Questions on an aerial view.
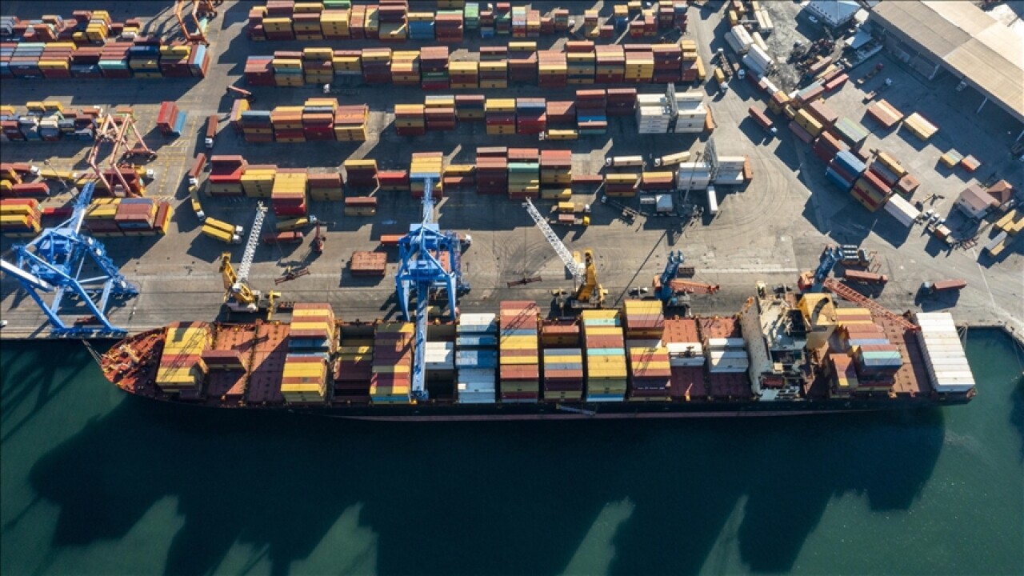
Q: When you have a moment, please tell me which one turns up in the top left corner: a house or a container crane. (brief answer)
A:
container crane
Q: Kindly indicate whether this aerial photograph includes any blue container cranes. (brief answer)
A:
Yes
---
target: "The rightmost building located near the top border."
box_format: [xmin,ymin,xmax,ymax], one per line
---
[865,0,1024,127]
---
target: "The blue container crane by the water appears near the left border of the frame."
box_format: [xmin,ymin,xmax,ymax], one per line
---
[0,177,134,330]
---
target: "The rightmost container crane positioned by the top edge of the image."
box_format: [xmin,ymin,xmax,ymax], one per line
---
[173,0,224,44]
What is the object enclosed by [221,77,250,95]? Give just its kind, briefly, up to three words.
work vehicle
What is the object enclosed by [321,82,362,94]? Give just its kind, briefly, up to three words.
vehicle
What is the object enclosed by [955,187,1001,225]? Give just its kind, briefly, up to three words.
house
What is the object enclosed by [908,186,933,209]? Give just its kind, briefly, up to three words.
work vehicle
